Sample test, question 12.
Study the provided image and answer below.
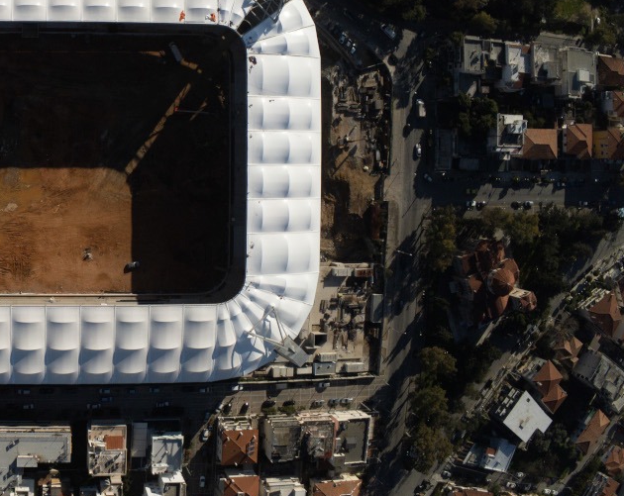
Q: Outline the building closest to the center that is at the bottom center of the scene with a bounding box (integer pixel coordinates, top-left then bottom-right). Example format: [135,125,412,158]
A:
[314,362,338,376]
